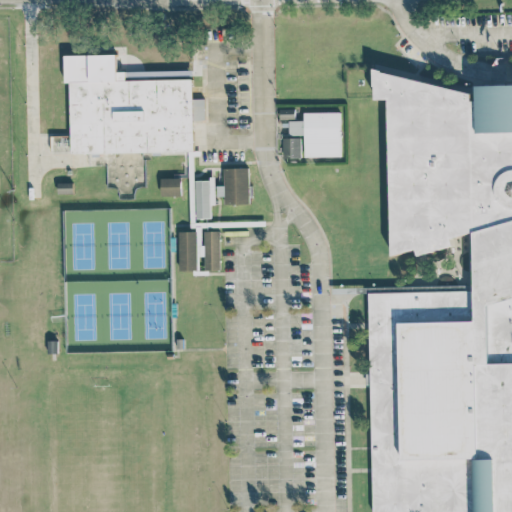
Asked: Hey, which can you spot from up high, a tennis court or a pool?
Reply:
tennis court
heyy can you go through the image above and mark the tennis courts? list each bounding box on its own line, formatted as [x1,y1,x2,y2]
[106,222,132,270]
[109,293,132,340]
[72,294,98,341]
[142,221,168,268]
[144,292,167,340]
[72,223,96,270]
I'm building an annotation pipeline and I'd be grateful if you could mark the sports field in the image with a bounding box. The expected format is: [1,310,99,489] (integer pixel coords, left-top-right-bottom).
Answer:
[54,388,152,512]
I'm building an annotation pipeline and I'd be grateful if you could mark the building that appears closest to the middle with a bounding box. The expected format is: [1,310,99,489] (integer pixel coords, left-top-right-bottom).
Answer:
[204,232,221,271]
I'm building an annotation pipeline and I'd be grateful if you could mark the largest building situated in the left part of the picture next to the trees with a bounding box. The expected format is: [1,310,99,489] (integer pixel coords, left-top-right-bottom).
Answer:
[63,46,196,154]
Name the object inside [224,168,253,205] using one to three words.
building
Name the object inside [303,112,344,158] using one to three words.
building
